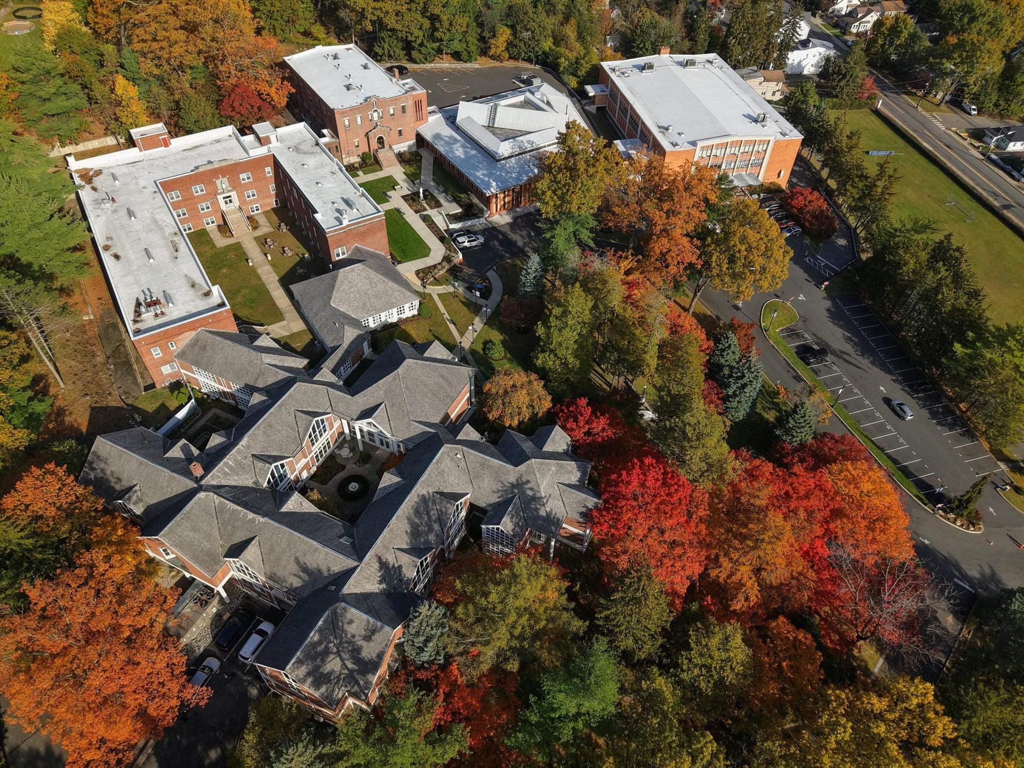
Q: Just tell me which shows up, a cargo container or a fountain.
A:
fountain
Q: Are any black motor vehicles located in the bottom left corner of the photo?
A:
Yes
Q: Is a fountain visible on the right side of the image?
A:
No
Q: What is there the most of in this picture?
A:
trees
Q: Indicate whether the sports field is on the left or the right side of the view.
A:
right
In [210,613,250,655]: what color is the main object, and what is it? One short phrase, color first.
black car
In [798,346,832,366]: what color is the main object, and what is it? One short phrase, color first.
black vehicle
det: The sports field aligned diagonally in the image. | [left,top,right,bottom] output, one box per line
[823,108,1024,366]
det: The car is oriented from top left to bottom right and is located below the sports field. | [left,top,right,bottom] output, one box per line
[886,398,919,423]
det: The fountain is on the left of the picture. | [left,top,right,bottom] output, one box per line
[337,472,369,499]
